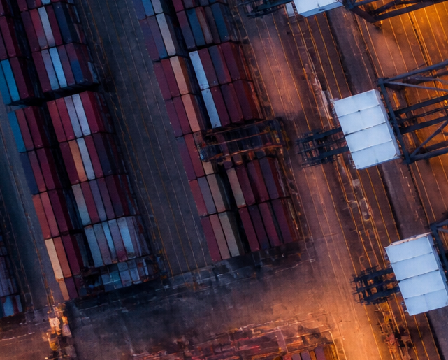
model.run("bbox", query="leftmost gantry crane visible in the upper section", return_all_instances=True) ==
[198,108,307,169]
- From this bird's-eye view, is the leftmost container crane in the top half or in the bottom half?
bottom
